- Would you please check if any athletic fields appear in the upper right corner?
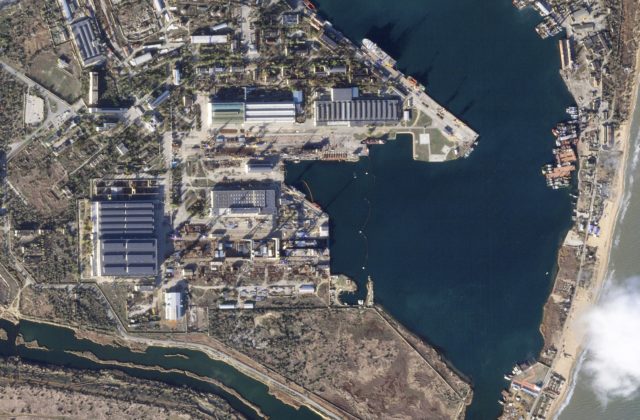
No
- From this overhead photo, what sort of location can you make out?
port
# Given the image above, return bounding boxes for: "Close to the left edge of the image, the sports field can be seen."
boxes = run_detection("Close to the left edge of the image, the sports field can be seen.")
[29,51,81,99]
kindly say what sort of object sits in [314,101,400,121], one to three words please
building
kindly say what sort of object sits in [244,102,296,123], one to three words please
building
